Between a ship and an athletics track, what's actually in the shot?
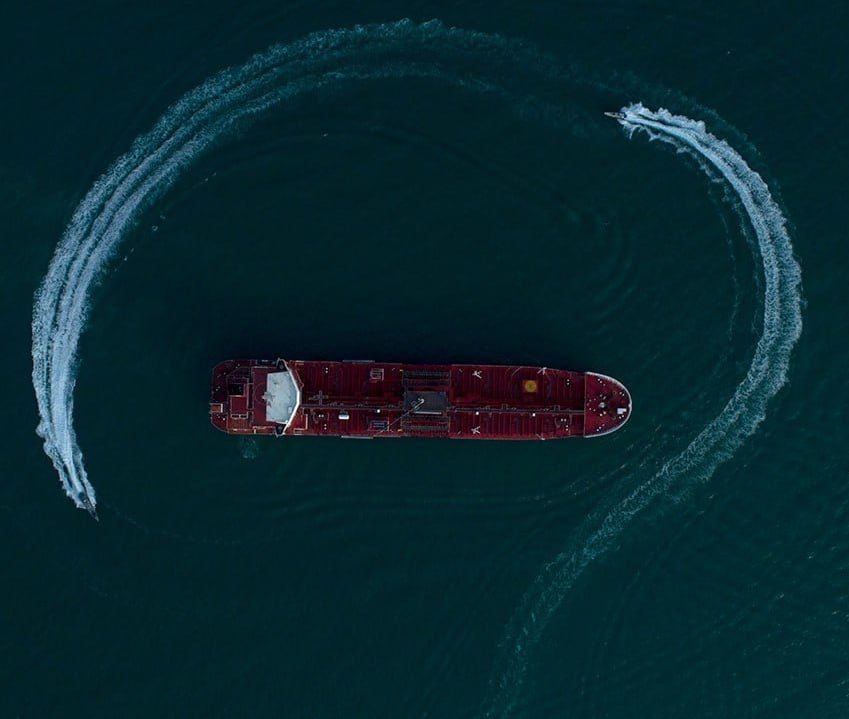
ship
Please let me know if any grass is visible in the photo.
No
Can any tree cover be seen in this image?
No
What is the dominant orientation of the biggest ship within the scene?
from side to side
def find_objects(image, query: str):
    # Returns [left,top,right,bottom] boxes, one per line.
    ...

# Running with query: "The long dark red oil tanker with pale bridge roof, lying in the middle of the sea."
[210,359,633,440]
